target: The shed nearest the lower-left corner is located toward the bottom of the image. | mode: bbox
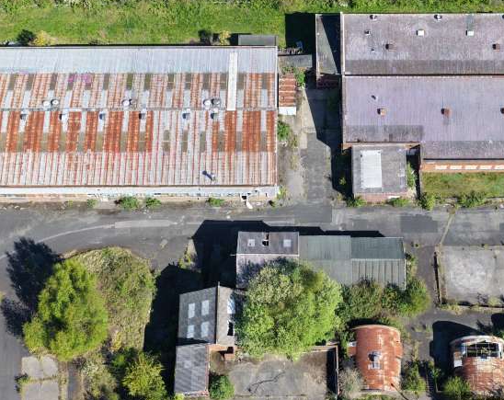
[174,348,212,399]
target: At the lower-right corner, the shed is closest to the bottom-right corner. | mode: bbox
[454,335,504,400]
